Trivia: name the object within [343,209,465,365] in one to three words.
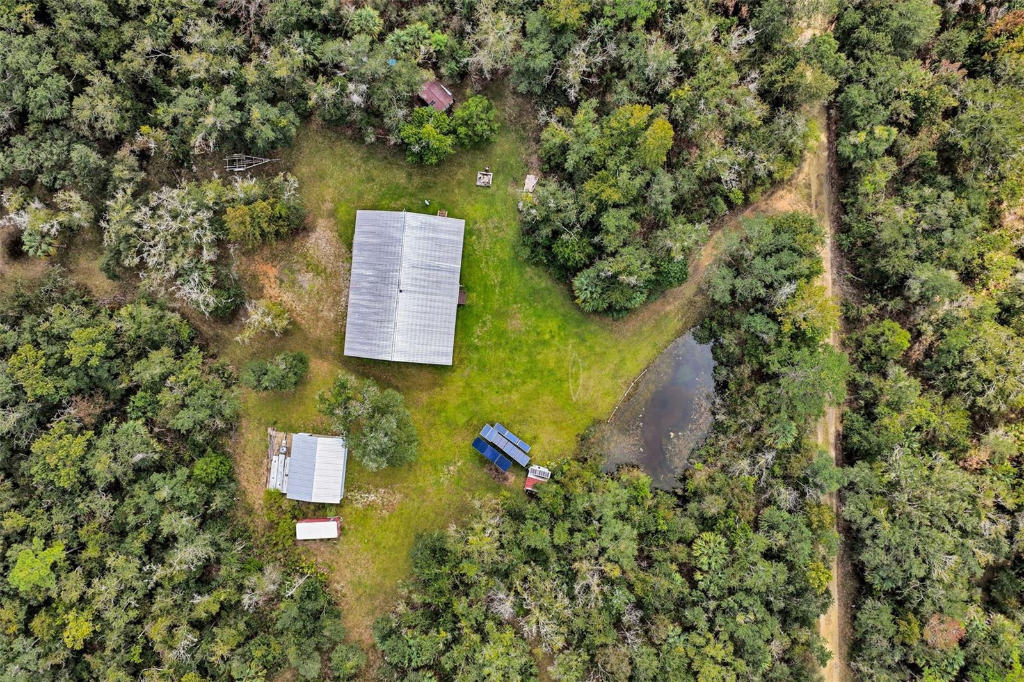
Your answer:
house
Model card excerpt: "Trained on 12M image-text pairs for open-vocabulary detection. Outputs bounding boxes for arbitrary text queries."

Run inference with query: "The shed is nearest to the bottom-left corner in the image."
[286,432,347,503]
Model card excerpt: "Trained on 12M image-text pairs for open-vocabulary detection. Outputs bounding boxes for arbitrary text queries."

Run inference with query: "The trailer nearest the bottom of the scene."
[297,518,348,540]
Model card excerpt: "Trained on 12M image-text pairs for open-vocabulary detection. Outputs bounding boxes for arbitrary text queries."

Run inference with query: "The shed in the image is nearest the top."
[422,80,454,115]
